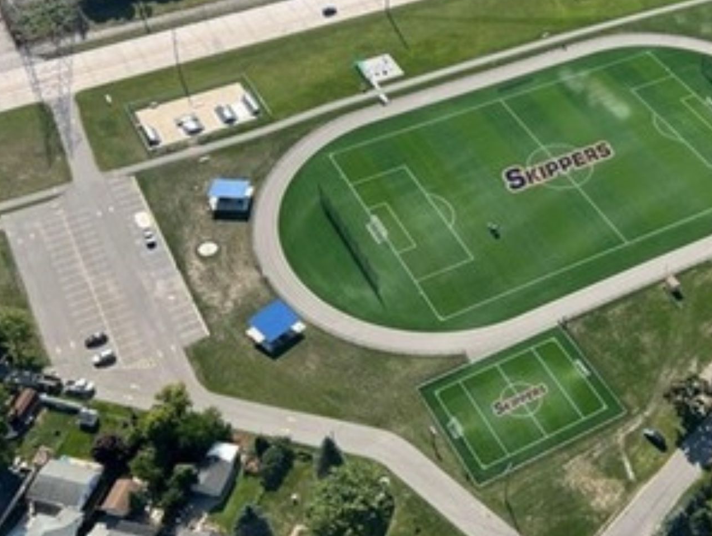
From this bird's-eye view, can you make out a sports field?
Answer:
Yes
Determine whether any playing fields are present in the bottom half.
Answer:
Yes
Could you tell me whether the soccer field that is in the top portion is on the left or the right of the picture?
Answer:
right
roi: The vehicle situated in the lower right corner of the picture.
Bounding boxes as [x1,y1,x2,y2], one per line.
[644,431,665,450]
